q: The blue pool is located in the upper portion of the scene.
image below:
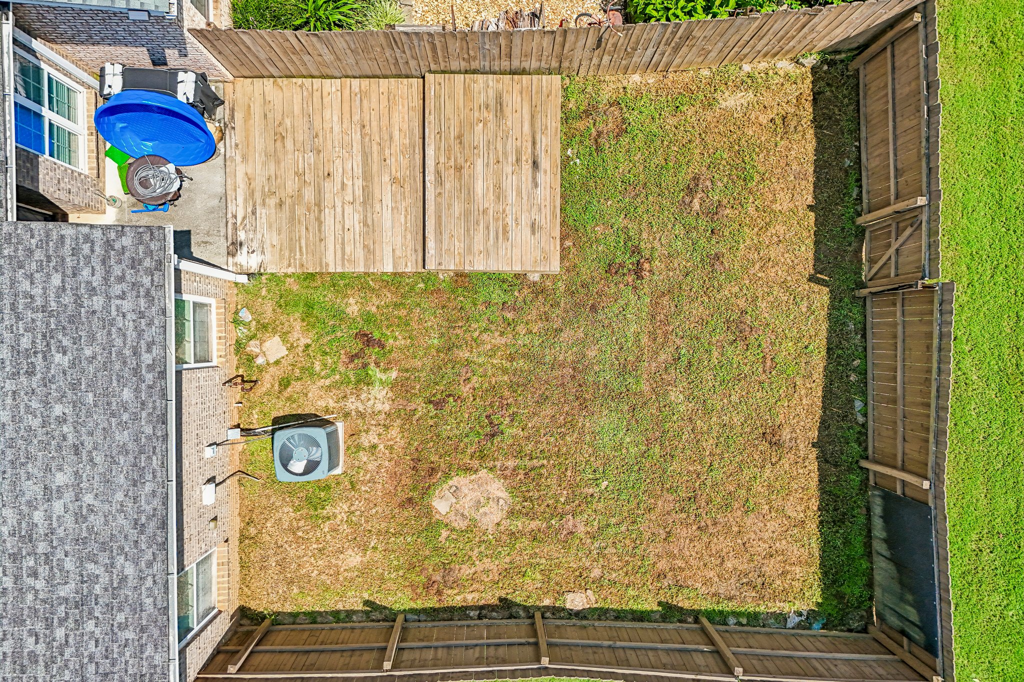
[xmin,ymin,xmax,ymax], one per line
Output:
[93,85,217,167]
